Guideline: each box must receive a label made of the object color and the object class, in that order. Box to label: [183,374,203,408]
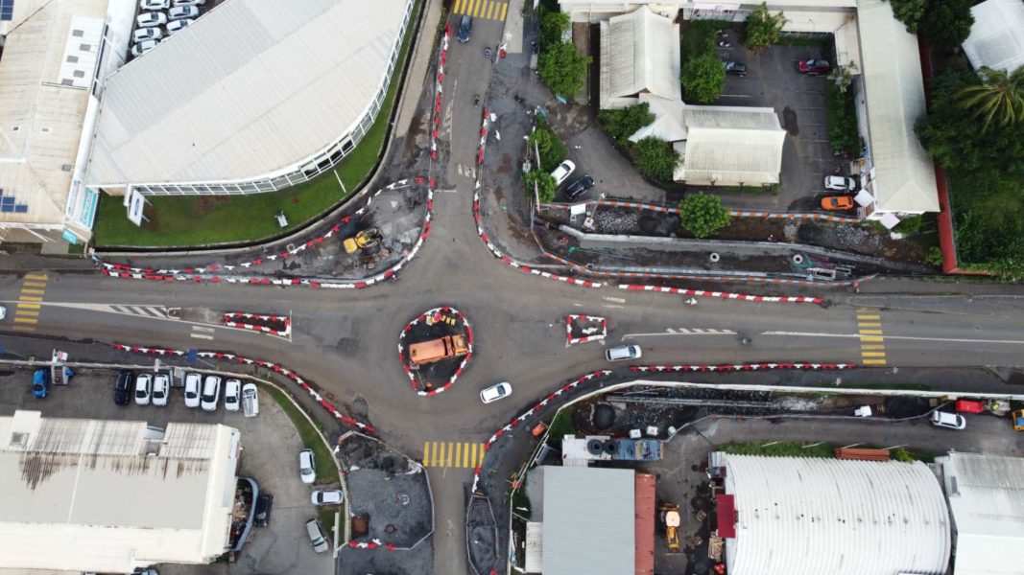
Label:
white car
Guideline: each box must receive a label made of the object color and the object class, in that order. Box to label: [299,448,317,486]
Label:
white car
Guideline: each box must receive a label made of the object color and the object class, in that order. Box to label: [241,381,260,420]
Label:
white vehicle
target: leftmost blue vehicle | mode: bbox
[30,369,49,400]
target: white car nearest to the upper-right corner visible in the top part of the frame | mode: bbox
[824,175,856,191]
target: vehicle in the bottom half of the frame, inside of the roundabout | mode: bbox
[407,331,468,369]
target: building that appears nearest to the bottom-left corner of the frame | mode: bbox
[0,411,242,573]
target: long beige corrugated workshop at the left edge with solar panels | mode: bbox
[0,0,109,242]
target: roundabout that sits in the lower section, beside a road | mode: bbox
[400,308,470,394]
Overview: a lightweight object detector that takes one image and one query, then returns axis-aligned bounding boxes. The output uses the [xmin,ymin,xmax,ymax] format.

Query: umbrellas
[853,188,872,208]
[878,212,900,231]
